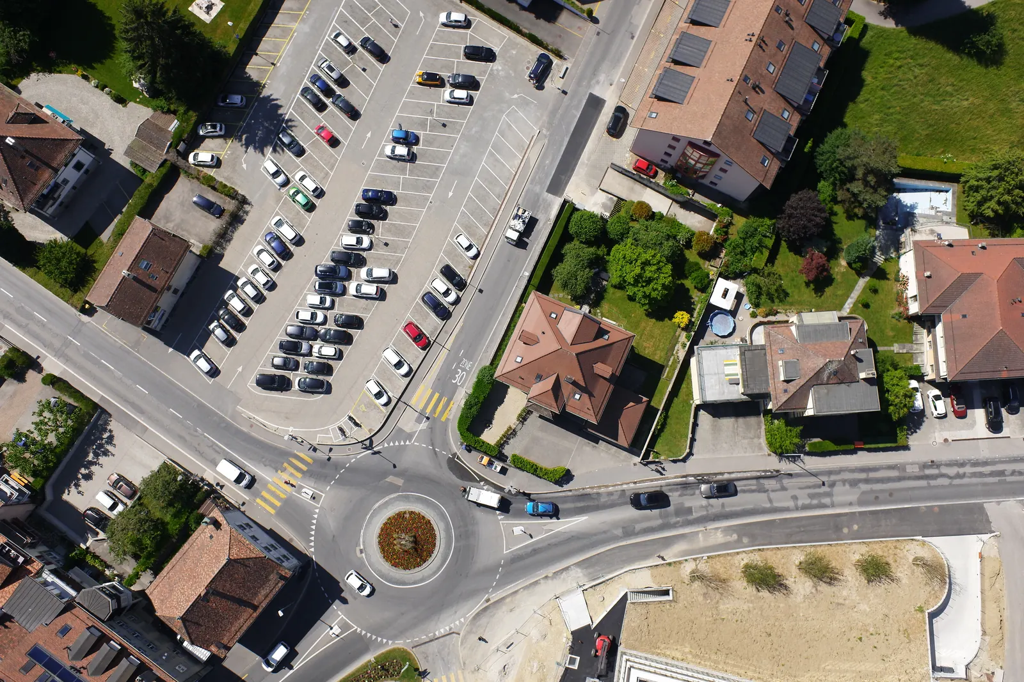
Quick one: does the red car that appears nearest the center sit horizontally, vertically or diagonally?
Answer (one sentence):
In this picture, the red car that appears nearest the center is oriented diagonally.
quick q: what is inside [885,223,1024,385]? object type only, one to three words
house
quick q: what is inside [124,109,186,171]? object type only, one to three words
shed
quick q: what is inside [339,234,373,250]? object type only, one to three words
car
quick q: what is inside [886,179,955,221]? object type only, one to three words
swimming pool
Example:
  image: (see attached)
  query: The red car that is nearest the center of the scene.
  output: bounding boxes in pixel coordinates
[401,319,430,350]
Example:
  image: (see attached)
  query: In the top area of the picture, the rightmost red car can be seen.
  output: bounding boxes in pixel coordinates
[631,157,656,176]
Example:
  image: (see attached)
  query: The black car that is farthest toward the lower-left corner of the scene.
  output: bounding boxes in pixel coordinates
[82,506,113,533]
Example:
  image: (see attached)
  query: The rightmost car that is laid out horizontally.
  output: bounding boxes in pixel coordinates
[698,481,737,499]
